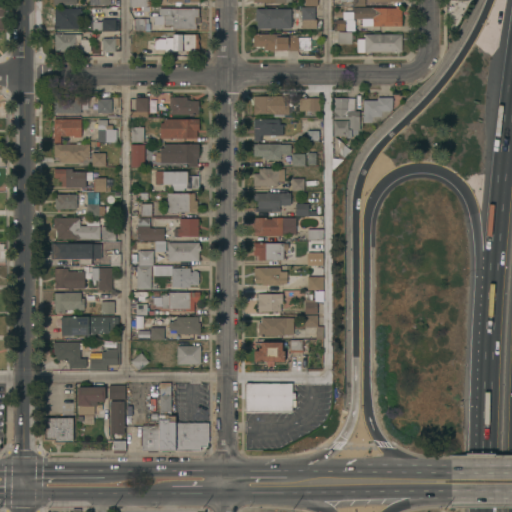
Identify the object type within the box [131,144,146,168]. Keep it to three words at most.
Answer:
building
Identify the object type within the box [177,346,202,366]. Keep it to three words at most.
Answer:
house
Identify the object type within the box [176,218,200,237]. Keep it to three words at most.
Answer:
house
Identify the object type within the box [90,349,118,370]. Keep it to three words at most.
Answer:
building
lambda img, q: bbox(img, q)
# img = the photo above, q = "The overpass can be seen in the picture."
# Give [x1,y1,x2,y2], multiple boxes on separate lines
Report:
[444,454,512,507]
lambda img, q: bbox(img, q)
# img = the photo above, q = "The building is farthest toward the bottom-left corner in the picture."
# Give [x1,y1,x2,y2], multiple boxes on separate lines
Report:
[46,418,75,442]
